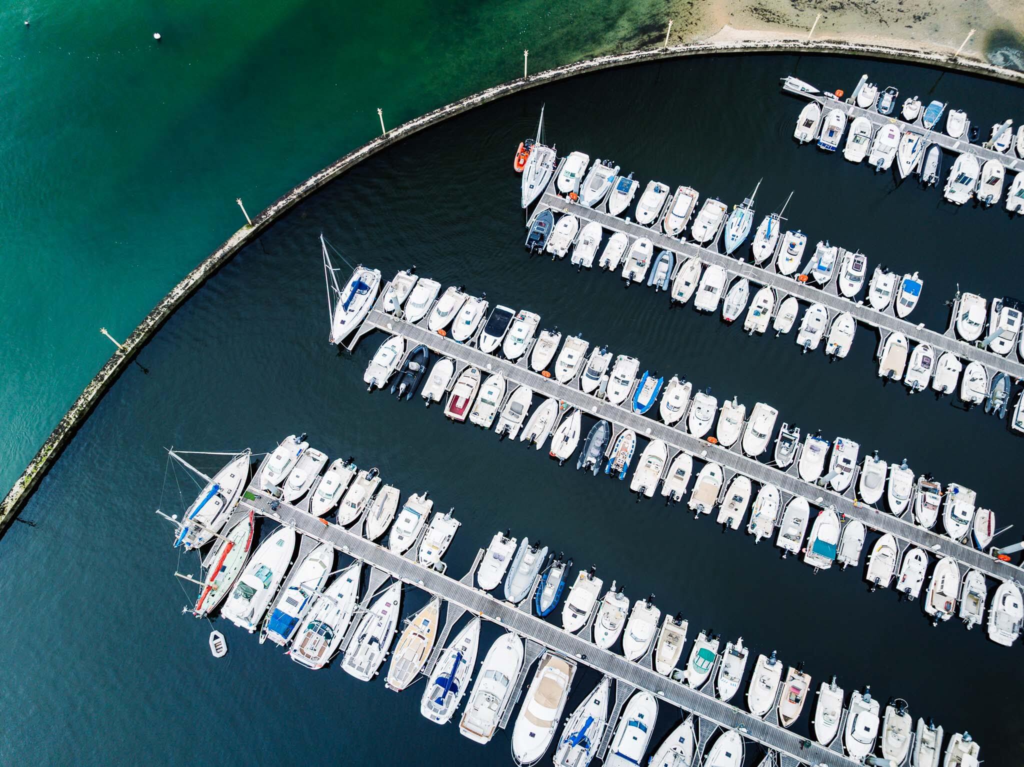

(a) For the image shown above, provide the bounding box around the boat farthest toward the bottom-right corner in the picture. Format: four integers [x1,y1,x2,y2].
[939,728,977,767]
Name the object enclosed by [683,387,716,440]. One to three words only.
boat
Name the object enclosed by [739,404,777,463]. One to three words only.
boat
